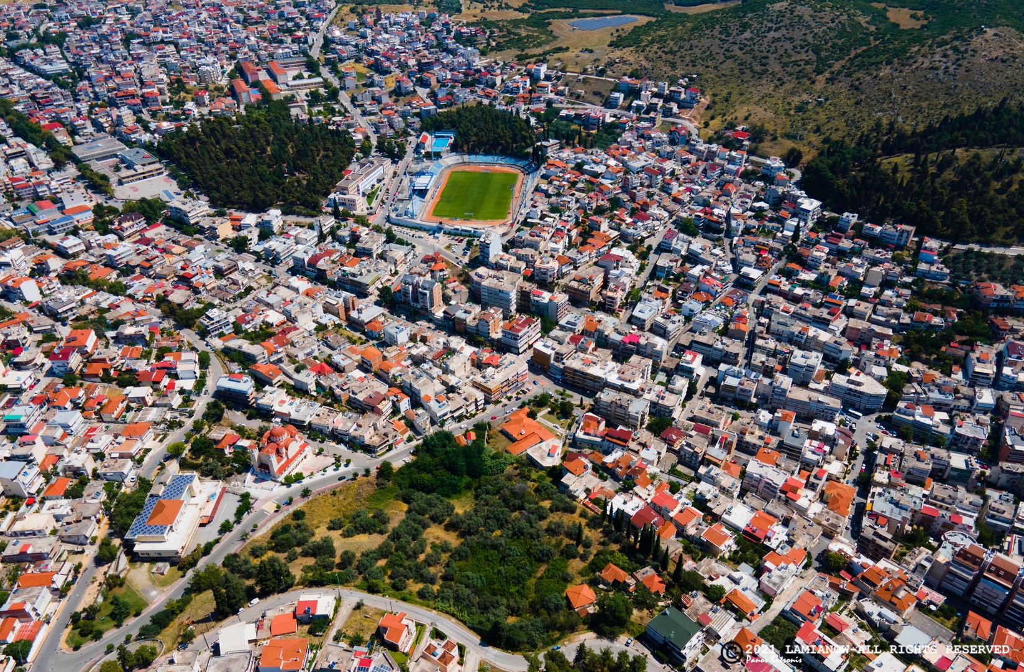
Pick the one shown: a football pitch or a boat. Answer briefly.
football pitch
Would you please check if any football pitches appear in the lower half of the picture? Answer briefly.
No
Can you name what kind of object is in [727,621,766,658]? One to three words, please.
house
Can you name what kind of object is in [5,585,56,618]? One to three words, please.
building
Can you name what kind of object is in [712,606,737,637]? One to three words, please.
house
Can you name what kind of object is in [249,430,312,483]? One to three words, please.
building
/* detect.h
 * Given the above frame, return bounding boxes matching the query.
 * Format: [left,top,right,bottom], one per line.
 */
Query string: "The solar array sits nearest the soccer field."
[569,15,641,31]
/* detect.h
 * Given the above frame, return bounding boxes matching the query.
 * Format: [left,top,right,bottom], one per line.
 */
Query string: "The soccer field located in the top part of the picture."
[432,171,518,219]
